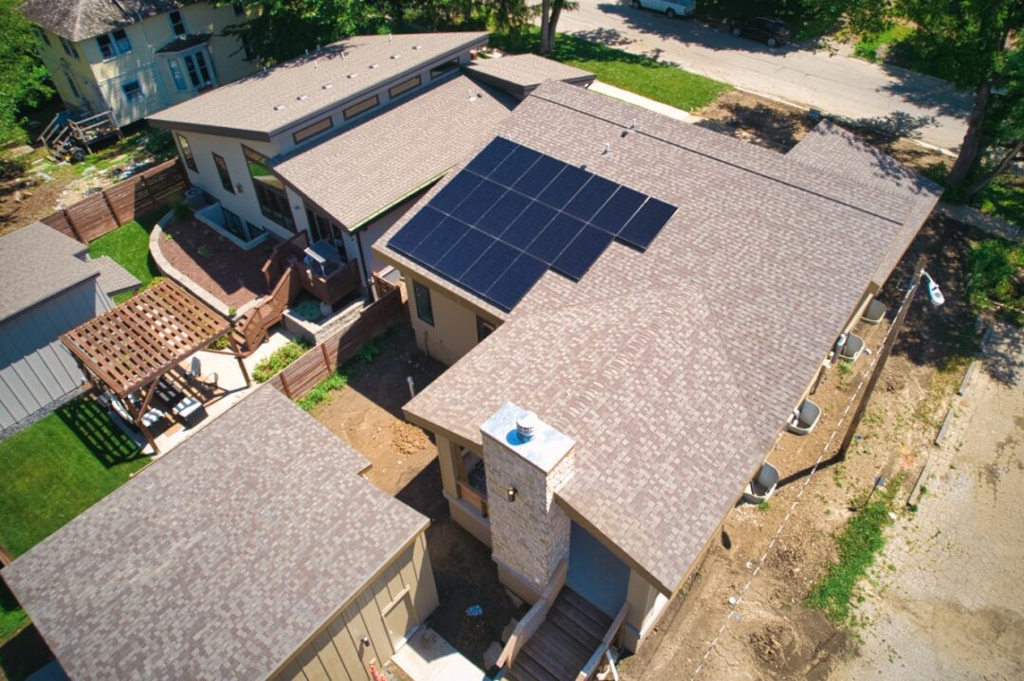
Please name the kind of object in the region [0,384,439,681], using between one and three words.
building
